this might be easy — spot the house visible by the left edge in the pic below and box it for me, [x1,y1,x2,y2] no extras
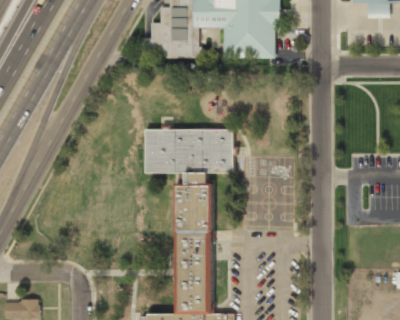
[4,299,41,320]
